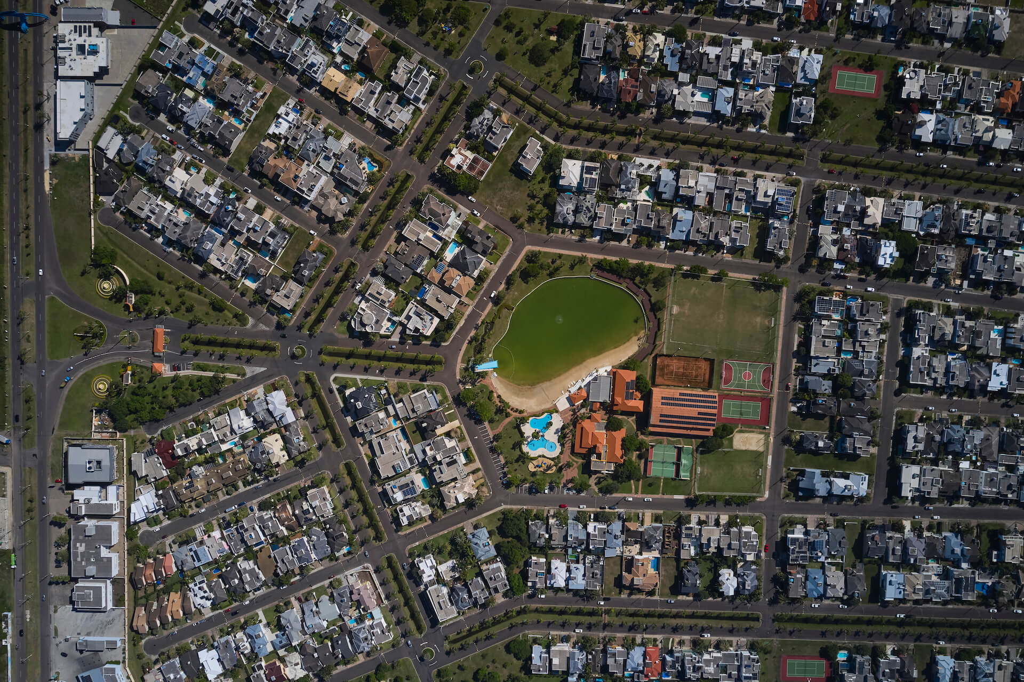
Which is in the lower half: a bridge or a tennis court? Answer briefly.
tennis court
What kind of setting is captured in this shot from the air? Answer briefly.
residential area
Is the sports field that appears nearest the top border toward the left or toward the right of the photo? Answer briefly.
right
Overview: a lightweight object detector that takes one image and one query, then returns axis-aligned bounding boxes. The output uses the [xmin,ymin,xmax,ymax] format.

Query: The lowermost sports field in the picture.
[698,450,764,493]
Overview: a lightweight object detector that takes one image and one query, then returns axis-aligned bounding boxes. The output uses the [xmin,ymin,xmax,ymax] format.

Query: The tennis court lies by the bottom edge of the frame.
[782,655,831,682]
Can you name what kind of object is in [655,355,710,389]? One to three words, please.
tennis court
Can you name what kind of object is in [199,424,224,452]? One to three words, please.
house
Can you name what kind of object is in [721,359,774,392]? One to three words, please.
sports court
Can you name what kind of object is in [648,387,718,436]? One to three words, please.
building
